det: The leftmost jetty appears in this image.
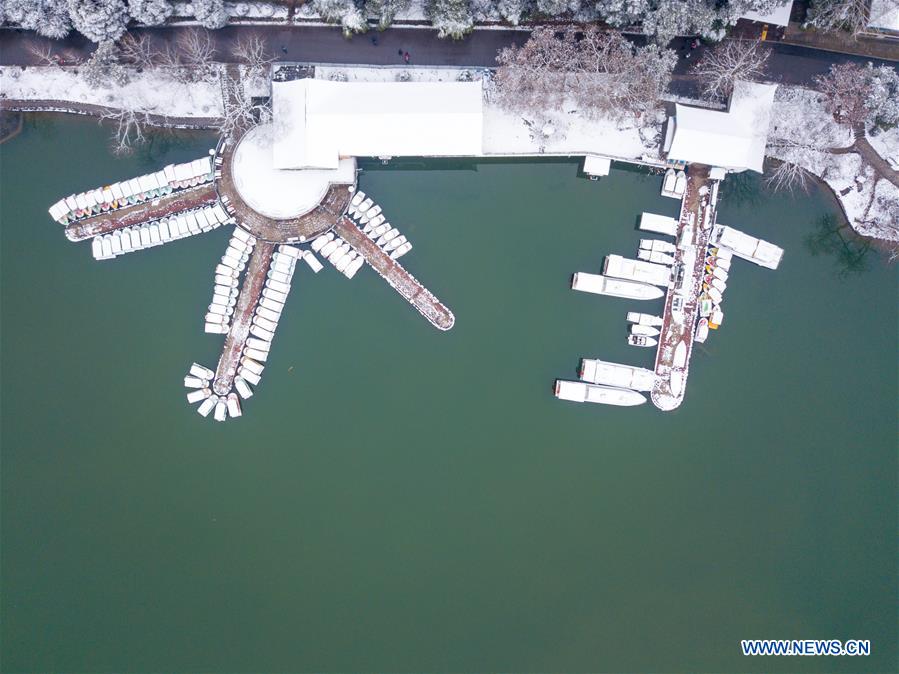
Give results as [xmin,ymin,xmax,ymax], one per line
[61,184,219,243]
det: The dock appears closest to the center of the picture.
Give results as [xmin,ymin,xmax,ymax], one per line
[331,214,454,331]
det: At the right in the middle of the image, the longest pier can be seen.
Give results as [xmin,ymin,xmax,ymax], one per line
[650,164,720,412]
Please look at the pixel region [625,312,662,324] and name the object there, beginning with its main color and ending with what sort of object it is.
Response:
white boat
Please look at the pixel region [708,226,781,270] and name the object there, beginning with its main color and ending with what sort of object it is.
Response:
white vessel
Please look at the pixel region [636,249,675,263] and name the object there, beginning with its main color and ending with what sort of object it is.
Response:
white boat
